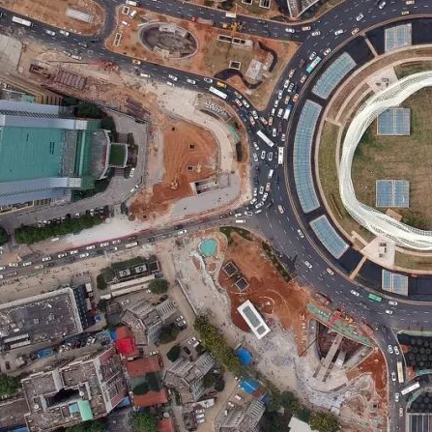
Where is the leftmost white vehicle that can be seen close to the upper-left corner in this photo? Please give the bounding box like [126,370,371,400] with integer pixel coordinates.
[9,14,32,26]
